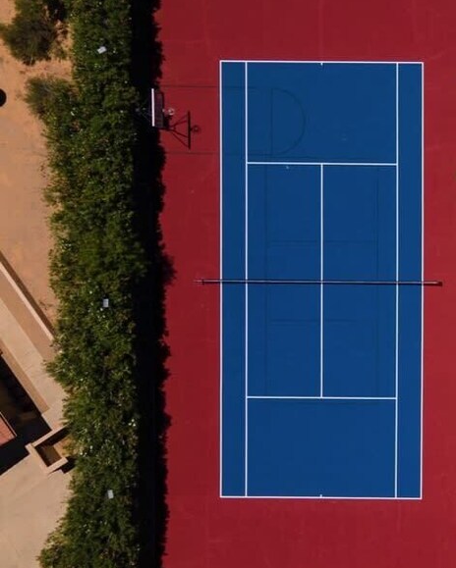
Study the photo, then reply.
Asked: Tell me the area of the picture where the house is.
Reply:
bottom left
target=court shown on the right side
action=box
[160,0,456,568]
